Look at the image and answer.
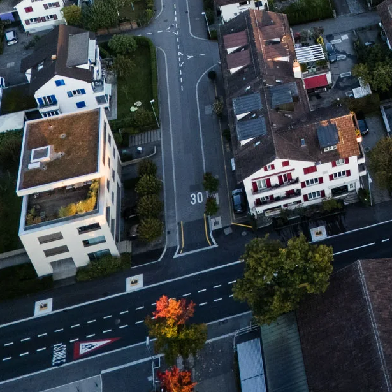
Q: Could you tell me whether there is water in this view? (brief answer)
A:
No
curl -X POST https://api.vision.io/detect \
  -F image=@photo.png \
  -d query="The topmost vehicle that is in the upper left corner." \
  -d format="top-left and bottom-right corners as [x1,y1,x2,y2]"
[4,29,18,47]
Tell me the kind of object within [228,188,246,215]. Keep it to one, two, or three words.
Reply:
car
